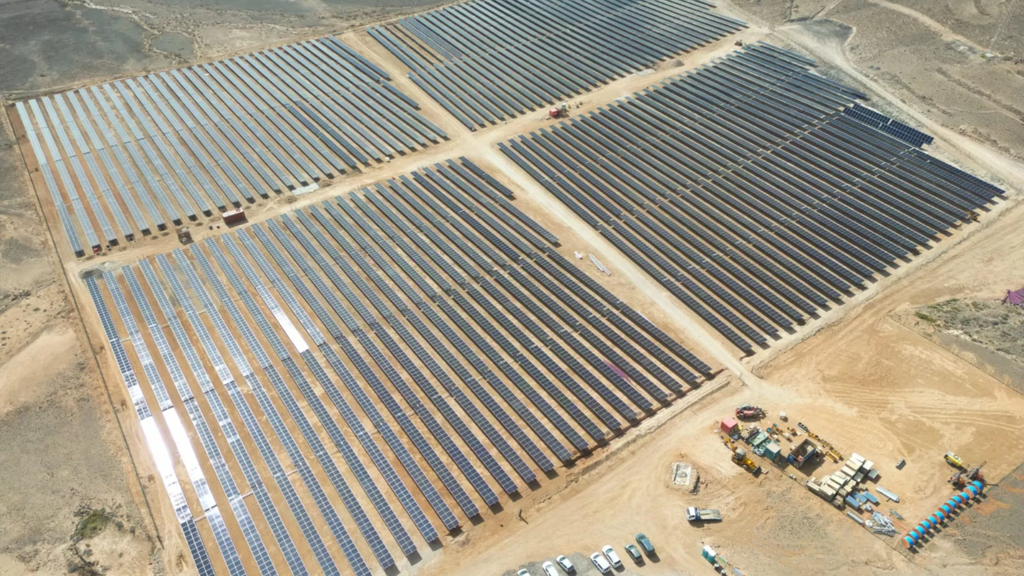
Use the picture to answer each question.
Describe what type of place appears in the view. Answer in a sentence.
This looks like a solar farm.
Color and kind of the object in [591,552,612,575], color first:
white car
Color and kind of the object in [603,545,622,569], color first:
white car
